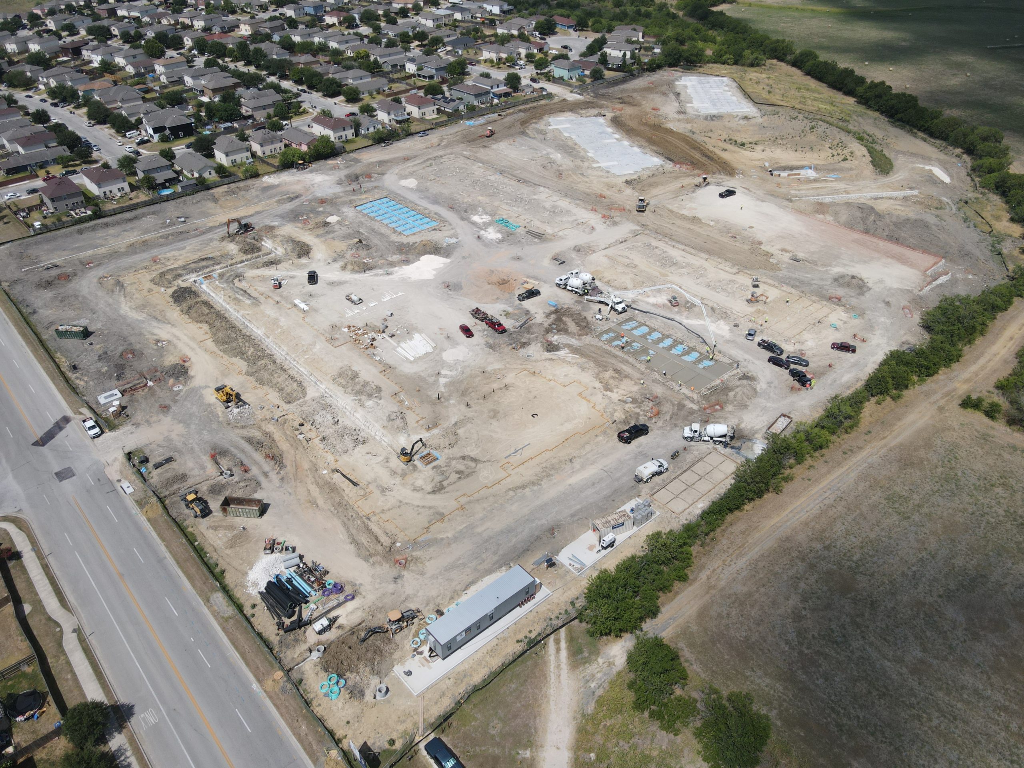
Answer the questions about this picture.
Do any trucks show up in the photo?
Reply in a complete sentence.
Yes, I can see a truck in this picture.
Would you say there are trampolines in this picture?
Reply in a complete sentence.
Yes, there's a trampoline down there.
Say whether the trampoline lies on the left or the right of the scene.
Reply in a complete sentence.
The trampoline appears in the left half of the scene.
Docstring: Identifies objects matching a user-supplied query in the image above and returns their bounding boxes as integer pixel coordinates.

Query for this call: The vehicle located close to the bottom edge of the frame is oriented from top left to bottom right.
[422,731,462,768]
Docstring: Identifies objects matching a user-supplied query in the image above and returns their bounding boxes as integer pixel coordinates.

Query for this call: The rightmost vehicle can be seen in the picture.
[829,342,858,354]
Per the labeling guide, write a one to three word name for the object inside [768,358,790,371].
vehicle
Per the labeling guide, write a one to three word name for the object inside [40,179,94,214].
house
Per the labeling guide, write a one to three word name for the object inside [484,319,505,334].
vehicle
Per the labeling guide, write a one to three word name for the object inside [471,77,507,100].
house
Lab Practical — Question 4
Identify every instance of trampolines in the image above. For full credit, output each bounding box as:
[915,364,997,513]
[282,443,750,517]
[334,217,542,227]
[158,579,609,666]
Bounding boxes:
[5,684,43,718]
